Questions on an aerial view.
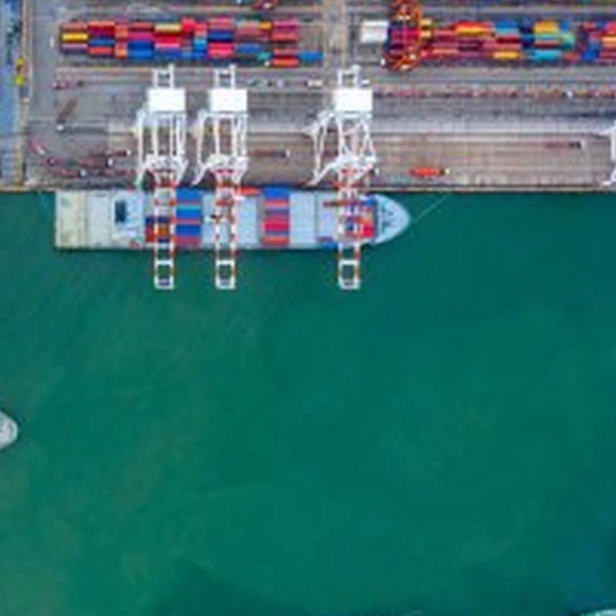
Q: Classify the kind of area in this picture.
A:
port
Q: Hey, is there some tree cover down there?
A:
No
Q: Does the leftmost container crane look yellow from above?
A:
No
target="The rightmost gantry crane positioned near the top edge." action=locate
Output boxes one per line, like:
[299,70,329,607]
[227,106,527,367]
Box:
[383,0,421,73]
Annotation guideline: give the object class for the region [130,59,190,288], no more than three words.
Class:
container crane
